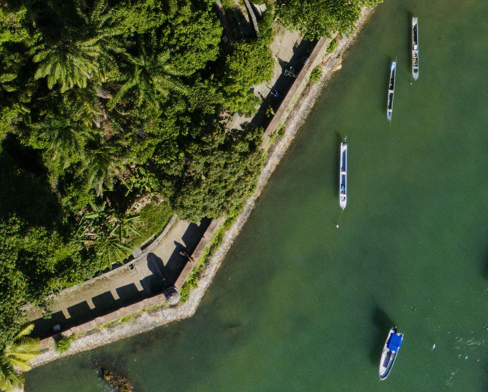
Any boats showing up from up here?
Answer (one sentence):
Yes, there's a boat here.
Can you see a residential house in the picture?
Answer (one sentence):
No, there is no residential house in the image.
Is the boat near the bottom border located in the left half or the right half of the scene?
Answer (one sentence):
It is on the right.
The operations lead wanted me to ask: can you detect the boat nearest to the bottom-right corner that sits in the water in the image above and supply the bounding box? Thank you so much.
[377,327,406,381]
